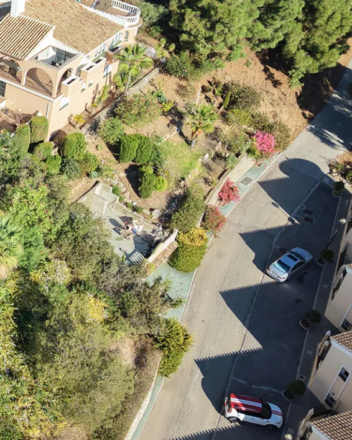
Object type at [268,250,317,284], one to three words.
car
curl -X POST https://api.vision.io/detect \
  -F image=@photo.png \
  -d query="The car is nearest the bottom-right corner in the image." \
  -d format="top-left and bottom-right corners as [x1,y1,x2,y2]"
[226,396,284,434]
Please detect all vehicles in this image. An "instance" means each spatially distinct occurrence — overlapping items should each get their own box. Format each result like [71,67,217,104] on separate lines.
[268,250,317,284]
[226,396,284,434]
